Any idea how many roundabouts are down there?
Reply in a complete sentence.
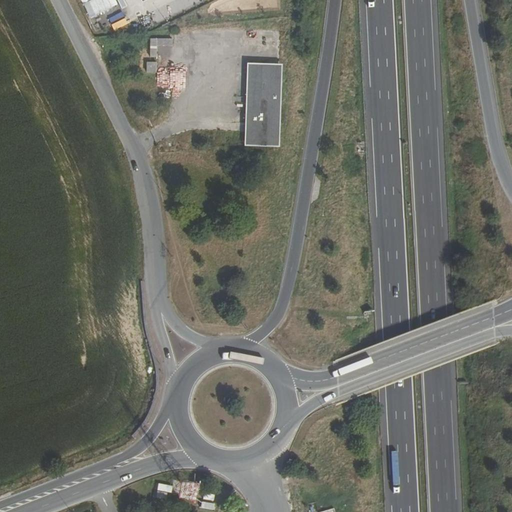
My tally gives 1 roundabout in this photo.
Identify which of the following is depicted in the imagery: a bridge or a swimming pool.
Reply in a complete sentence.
This aerial view contains a bridge.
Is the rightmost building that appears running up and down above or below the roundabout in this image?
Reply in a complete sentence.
You can see the rightmost building that appears running up and down above the roundabout in the frame.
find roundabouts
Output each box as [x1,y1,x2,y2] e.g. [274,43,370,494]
[136,313,325,476]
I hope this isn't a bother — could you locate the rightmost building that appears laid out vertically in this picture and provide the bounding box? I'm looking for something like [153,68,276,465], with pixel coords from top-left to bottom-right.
[245,62,282,147]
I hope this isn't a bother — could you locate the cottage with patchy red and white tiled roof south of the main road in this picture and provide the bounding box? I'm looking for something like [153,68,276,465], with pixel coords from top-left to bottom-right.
[178,482,200,504]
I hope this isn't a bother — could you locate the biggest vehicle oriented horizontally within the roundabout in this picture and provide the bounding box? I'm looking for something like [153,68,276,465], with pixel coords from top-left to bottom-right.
[222,352,264,364]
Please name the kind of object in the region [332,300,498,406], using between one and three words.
bridge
